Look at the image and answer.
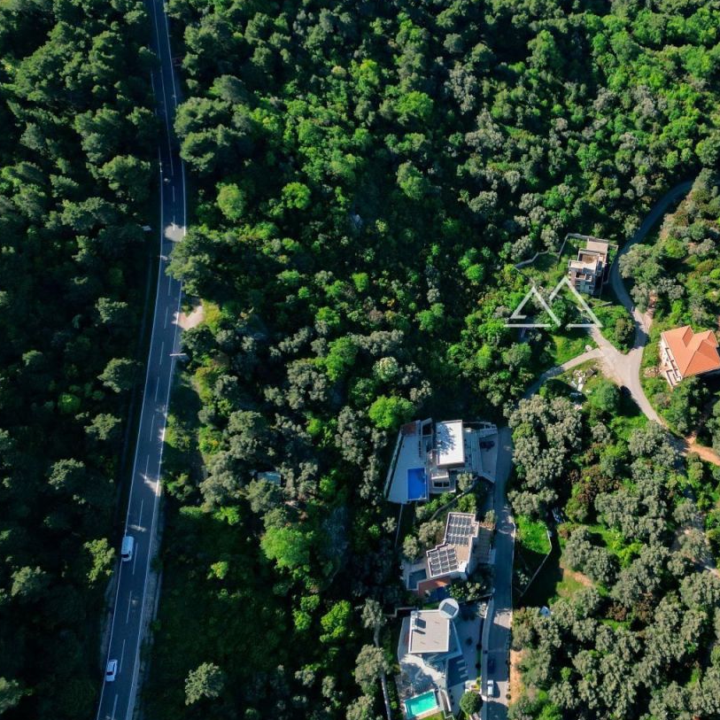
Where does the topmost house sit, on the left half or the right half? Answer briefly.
right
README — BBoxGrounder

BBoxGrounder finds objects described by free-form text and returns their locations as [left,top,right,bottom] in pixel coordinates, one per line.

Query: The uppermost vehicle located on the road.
[121,536,136,560]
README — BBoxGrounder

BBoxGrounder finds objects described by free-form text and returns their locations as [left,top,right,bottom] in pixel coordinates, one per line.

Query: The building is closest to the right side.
[658,325,720,389]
